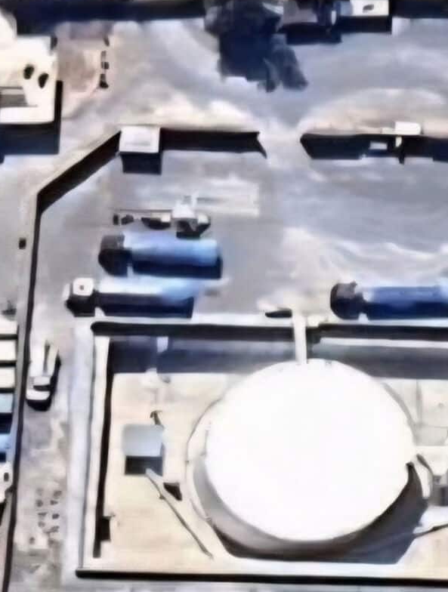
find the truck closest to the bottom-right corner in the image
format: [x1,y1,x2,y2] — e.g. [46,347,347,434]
[331,283,448,315]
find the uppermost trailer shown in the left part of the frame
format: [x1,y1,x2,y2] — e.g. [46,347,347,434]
[114,198,208,234]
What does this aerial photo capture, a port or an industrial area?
industrial area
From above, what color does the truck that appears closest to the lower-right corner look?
blue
